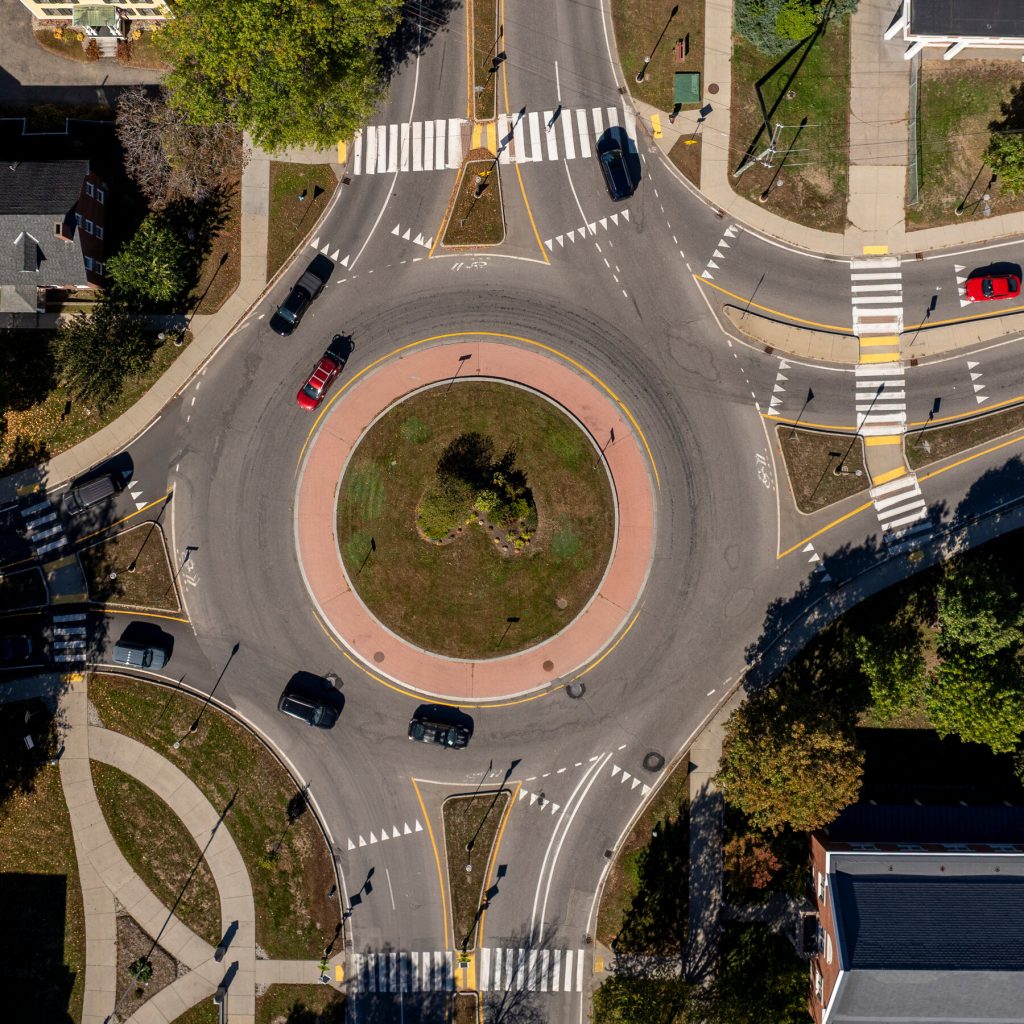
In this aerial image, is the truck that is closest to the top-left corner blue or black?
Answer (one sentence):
The truck that is closest to the top-left corner looks black in the image.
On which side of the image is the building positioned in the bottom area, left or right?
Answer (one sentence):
The building positioned in the bottom area is on the right side of the image.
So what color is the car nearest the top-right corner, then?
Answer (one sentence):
From above, the car nearest the top-right corner appears red.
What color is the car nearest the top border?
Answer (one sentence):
The car nearest the top border looks black in the image.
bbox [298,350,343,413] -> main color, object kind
red car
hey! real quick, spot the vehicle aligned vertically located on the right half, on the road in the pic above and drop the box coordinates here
[595,135,634,202]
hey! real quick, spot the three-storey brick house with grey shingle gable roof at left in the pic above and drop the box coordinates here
[0,158,107,315]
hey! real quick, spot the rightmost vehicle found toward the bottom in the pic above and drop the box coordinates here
[409,718,469,750]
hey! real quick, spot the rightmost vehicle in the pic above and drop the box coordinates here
[962,273,1021,302]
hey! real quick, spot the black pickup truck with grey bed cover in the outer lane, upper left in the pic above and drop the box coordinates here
[272,271,327,341]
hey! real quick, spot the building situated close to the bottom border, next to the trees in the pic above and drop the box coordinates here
[791,798,1024,1024]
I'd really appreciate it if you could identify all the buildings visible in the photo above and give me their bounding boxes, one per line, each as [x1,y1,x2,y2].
[791,798,1024,1024]
[0,158,107,315]
[885,0,1024,60]
[16,0,175,57]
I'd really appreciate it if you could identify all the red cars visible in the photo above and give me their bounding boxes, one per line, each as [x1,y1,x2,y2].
[298,350,343,413]
[962,273,1021,302]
